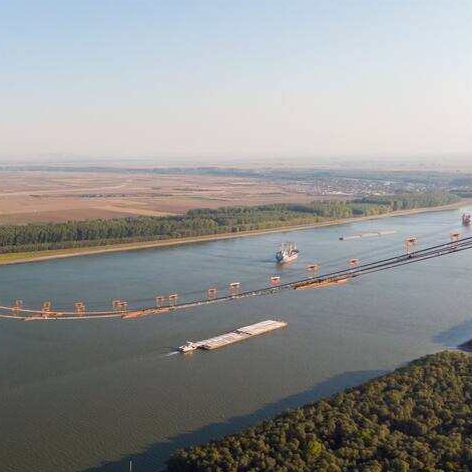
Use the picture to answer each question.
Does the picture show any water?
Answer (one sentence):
Yes, water shows up in the scene.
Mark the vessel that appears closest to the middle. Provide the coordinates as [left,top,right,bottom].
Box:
[276,242,298,264]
